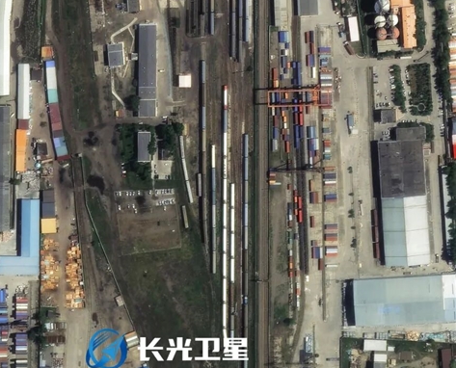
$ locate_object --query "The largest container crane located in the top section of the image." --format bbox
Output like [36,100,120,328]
[267,85,330,106]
